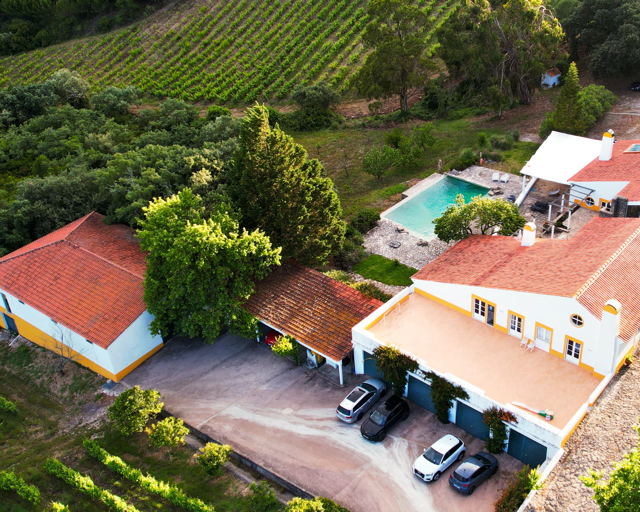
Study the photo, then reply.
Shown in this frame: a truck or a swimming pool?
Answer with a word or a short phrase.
swimming pool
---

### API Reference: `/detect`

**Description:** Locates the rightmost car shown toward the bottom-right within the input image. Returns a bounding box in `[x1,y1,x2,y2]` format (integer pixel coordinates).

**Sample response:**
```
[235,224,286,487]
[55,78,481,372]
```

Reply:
[445,444,505,496]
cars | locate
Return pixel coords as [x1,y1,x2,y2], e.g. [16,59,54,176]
[409,431,468,484]
[356,393,413,444]
[261,324,281,340]
[333,375,390,426]
[445,444,505,496]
